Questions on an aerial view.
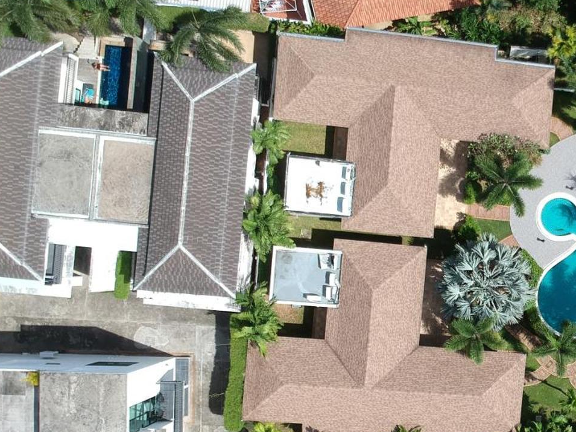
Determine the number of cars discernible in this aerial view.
0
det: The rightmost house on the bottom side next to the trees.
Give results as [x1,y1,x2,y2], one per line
[241,238,527,432]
